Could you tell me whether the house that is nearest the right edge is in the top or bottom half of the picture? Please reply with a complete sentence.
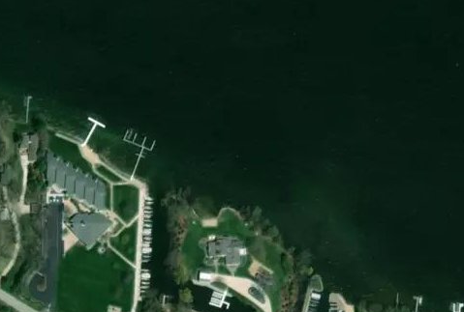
The house that is nearest the right edge is in the bottom half of the image.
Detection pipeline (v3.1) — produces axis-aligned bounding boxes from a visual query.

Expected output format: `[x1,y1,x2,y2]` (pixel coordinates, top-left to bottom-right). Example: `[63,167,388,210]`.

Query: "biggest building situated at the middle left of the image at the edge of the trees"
[47,150,107,213]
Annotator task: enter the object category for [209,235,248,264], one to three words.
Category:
house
